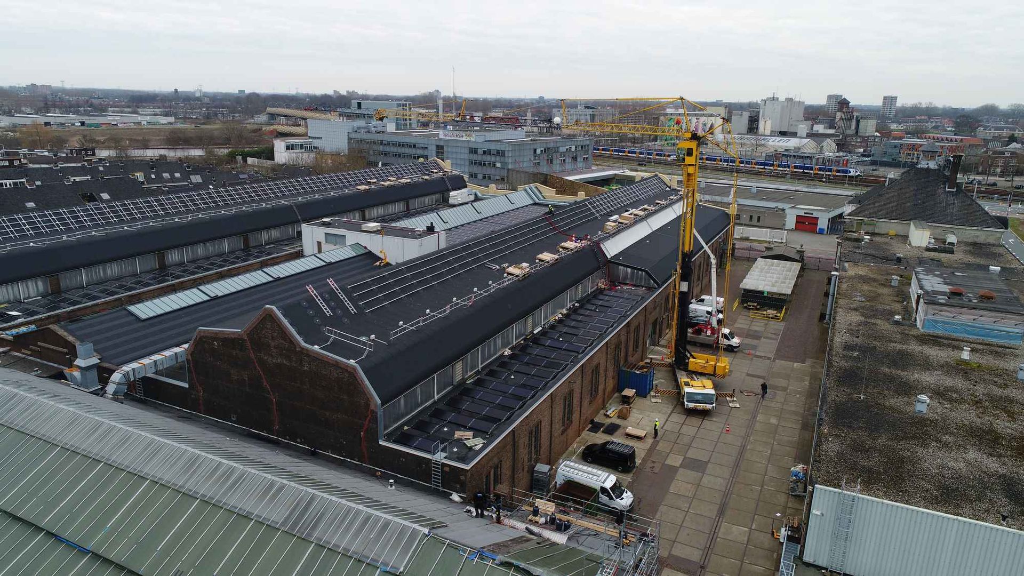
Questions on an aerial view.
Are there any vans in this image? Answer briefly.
Yes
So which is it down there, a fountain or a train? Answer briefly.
train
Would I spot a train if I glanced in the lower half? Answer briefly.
No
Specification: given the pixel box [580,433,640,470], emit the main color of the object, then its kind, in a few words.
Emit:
black van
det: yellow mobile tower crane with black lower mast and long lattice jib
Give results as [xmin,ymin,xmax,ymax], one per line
[306,93,743,414]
